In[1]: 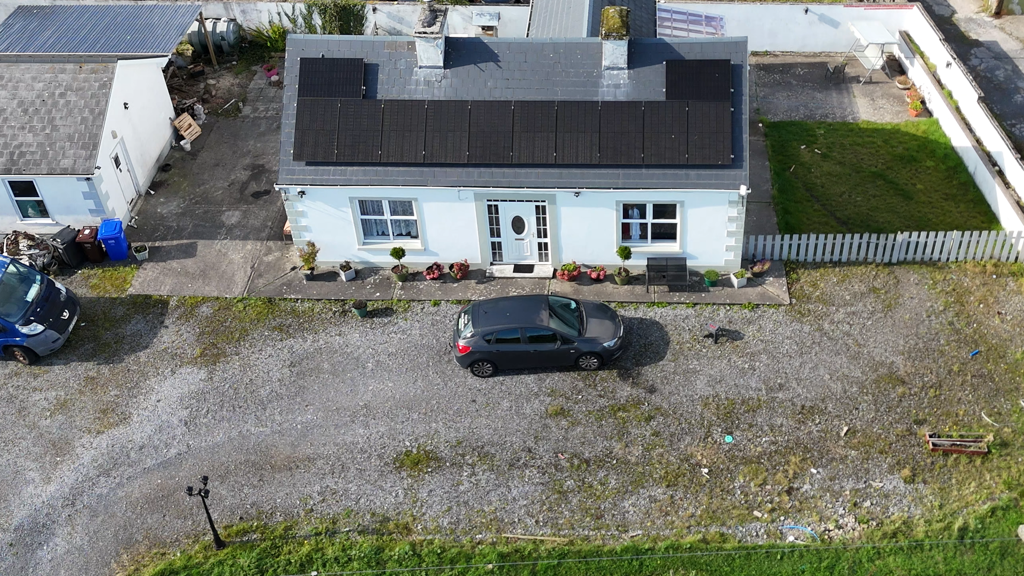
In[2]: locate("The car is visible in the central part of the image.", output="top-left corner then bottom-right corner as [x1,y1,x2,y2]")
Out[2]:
[448,290,625,378]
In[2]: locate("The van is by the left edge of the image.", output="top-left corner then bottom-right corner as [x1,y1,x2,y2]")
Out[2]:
[0,268,82,363]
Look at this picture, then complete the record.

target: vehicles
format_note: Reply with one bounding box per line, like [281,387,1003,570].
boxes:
[448,290,625,378]
[0,268,82,363]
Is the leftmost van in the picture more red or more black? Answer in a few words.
black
